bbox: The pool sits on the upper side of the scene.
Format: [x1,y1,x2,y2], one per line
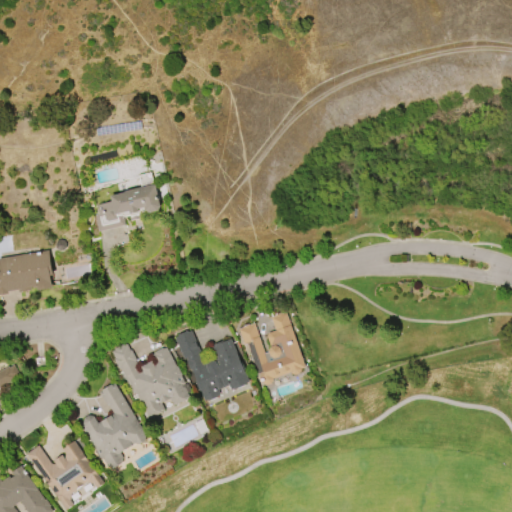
[96,168,120,184]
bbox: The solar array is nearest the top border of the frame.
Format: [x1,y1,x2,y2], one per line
[97,122,142,136]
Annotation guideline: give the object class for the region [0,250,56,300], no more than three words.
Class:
house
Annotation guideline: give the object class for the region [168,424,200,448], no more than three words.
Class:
swimming pool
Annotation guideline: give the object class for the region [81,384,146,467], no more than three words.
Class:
house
